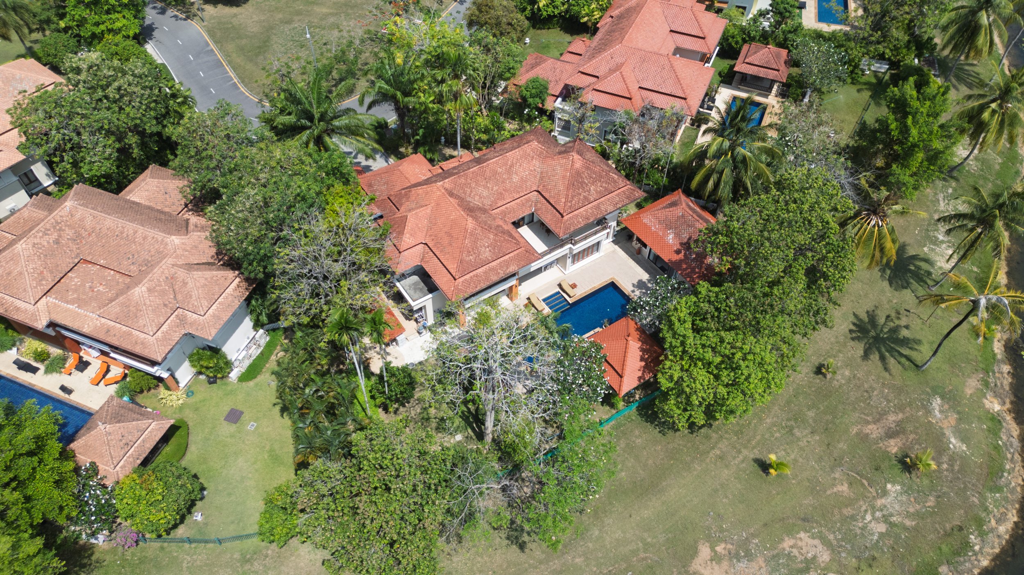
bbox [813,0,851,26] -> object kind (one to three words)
swimming pool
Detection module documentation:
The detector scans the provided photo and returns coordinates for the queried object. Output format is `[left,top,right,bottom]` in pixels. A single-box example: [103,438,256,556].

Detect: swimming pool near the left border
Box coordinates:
[0,376,93,480]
